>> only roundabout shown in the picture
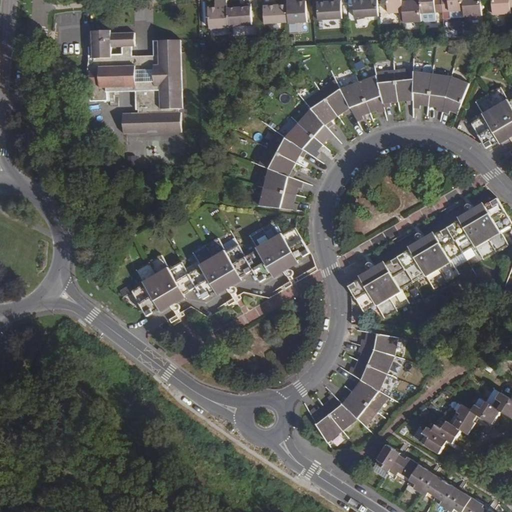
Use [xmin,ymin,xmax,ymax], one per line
[220,381,308,464]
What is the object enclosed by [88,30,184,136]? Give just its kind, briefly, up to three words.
building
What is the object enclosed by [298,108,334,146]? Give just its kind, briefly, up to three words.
house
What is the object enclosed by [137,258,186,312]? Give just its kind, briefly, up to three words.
house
